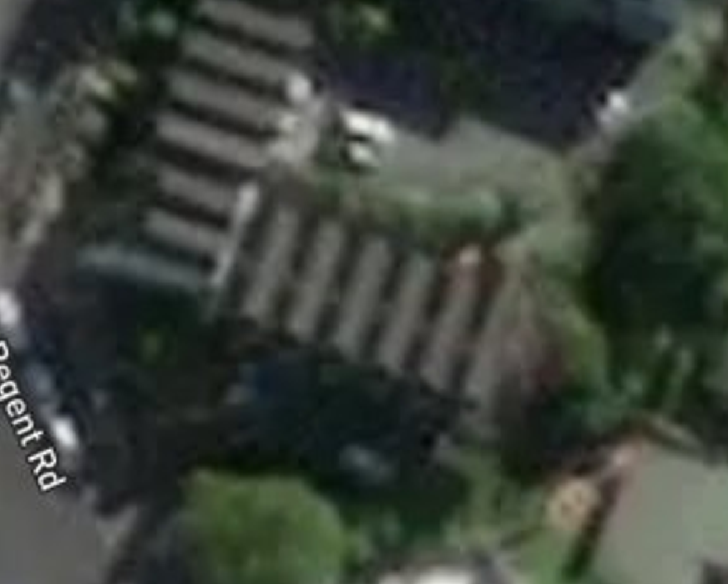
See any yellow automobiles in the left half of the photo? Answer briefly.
No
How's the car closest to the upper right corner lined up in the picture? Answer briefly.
diagonally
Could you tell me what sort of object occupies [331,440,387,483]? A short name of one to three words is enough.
car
